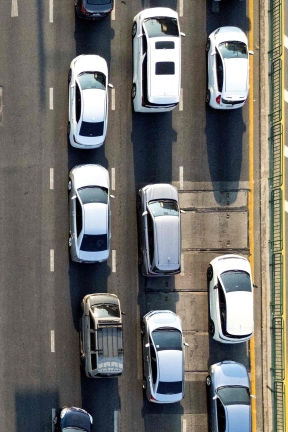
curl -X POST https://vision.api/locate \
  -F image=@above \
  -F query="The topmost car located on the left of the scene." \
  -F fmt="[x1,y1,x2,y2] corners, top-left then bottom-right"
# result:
[73,0,114,23]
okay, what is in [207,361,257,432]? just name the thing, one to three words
car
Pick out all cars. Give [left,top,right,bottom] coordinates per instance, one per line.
[73,0,114,23]
[207,361,257,432]
[54,407,94,432]
[81,291,128,379]
[68,163,115,263]
[207,25,255,110]
[209,254,260,344]
[143,309,189,405]
[68,54,114,150]
[140,183,187,278]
